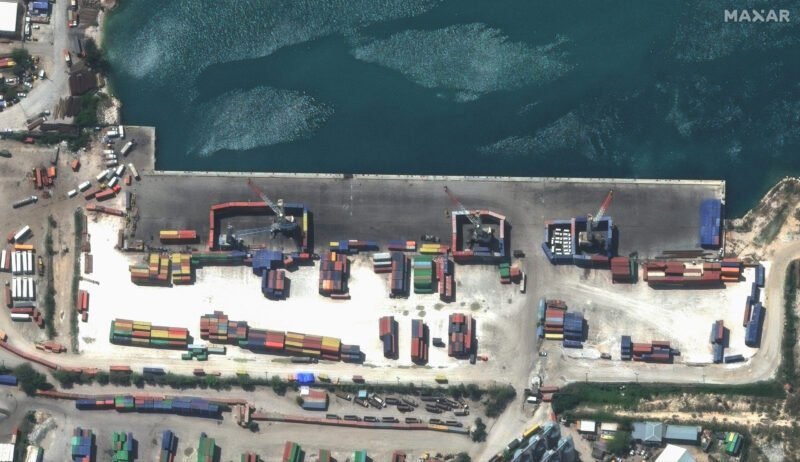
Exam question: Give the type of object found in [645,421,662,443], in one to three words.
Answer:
building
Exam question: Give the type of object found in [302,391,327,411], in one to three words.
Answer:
building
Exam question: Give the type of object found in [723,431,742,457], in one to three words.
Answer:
house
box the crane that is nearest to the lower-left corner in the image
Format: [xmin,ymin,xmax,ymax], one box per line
[218,224,274,252]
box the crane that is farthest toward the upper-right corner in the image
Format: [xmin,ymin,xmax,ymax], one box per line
[577,188,613,245]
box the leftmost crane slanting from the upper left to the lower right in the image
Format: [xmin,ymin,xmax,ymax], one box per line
[247,178,295,232]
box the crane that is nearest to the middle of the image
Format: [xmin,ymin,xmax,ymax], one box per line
[443,185,495,242]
